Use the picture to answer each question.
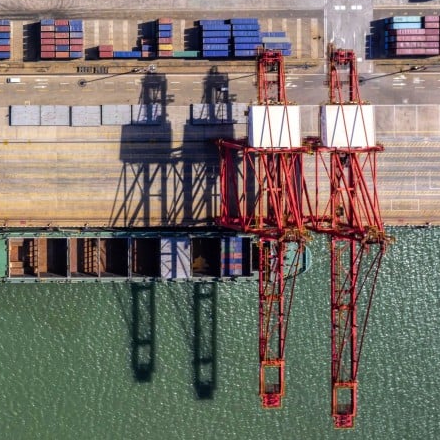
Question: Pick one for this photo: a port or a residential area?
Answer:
port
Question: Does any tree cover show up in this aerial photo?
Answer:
No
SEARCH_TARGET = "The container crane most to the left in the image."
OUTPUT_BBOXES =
[202,47,313,409]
